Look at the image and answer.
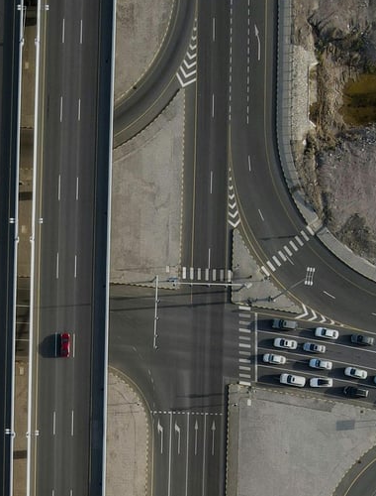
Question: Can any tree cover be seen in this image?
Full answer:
No, there is no tree cover in the image.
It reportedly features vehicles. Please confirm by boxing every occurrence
[281,374,304,387]
[351,333,375,346]
[344,387,368,399]
[303,343,326,354]
[310,376,333,389]
[316,328,338,340]
[274,319,296,330]
[274,337,297,350]
[310,359,332,370]
[344,367,368,379]
[263,354,286,365]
